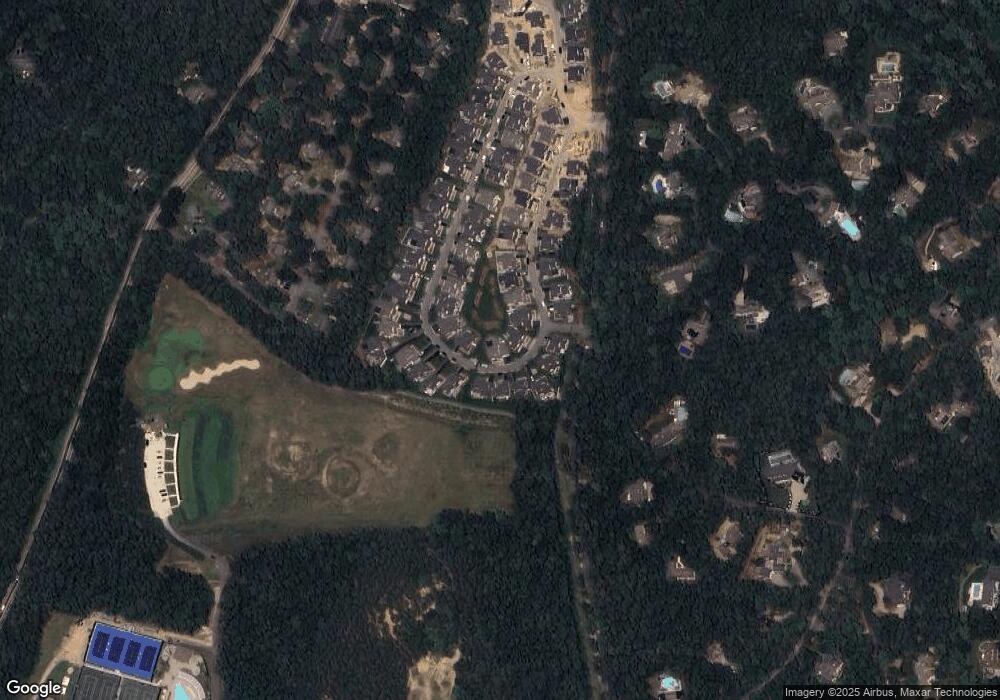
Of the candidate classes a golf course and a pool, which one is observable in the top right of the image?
pool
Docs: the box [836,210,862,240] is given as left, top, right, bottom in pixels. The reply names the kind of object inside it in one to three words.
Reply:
swimming pool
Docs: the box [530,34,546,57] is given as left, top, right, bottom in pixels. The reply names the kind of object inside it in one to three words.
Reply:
house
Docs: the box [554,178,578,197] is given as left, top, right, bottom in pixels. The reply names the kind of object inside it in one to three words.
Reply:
house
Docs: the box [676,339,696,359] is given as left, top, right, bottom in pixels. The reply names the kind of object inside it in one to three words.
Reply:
swimming pool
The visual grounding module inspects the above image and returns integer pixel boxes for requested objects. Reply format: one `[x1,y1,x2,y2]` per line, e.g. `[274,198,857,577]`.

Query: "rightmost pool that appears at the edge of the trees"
[970,582,983,601]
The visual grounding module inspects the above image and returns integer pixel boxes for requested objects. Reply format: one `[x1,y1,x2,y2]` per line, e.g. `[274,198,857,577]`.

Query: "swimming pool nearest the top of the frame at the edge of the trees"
[877,52,900,73]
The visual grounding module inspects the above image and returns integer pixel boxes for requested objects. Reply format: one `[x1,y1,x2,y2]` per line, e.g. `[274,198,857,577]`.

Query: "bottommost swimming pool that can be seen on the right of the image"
[659,674,681,690]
